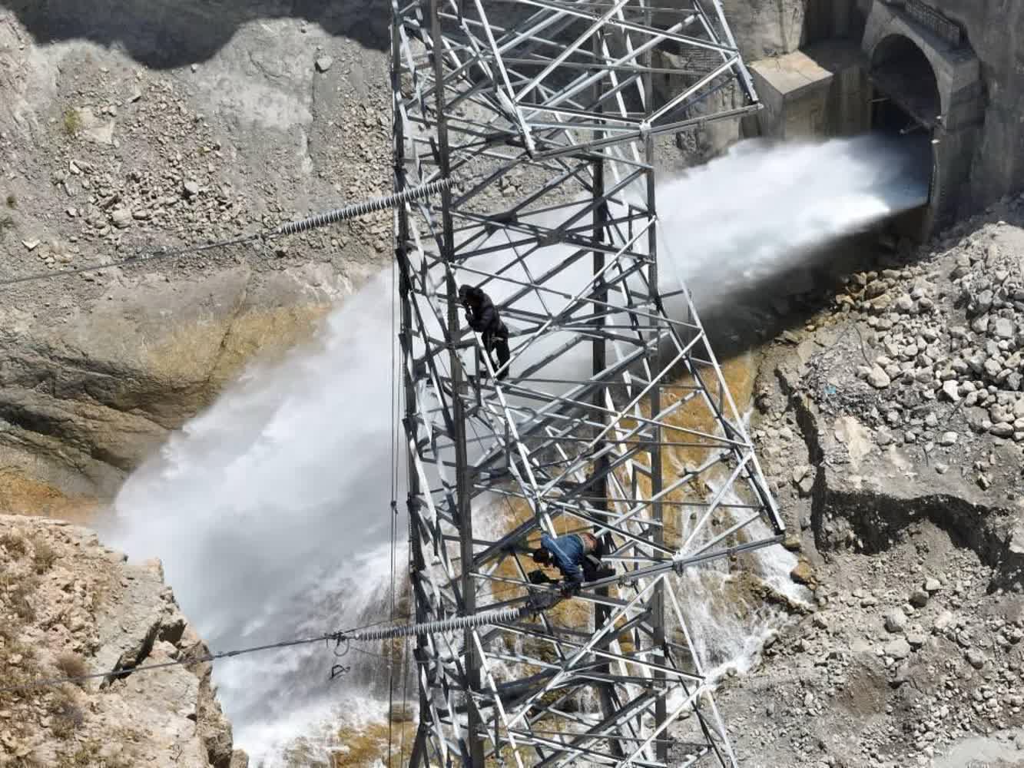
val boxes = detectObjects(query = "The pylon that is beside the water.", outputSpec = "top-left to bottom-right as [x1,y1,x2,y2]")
[383,0,793,768]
